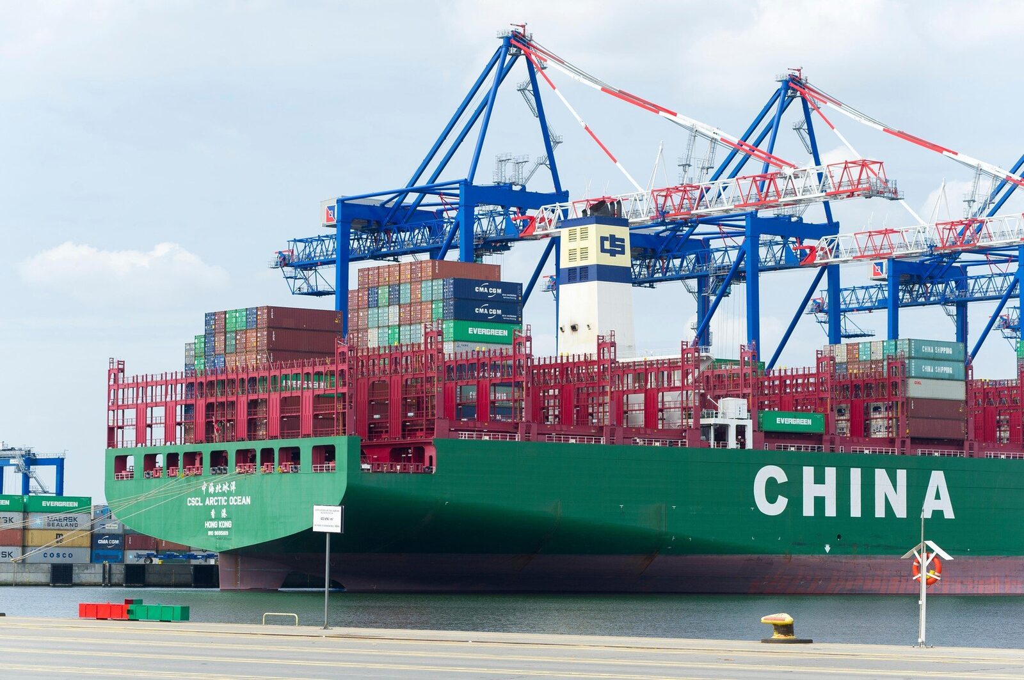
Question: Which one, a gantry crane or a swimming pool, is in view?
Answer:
gantry crane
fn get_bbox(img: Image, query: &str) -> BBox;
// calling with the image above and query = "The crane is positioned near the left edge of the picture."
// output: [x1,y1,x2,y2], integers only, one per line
[0,442,70,497]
